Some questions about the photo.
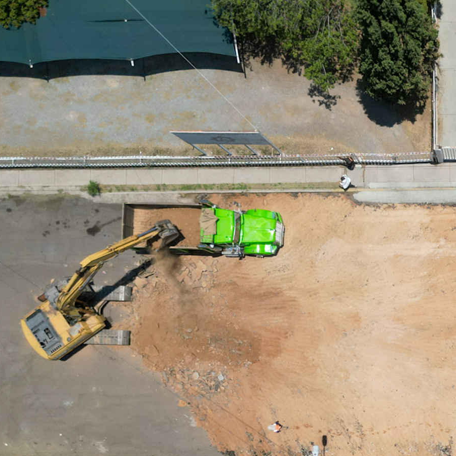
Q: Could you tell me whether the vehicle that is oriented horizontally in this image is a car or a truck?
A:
truck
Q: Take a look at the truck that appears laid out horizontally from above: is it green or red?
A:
green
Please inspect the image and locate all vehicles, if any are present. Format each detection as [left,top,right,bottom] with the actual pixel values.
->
[122,202,288,259]
[22,221,174,359]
